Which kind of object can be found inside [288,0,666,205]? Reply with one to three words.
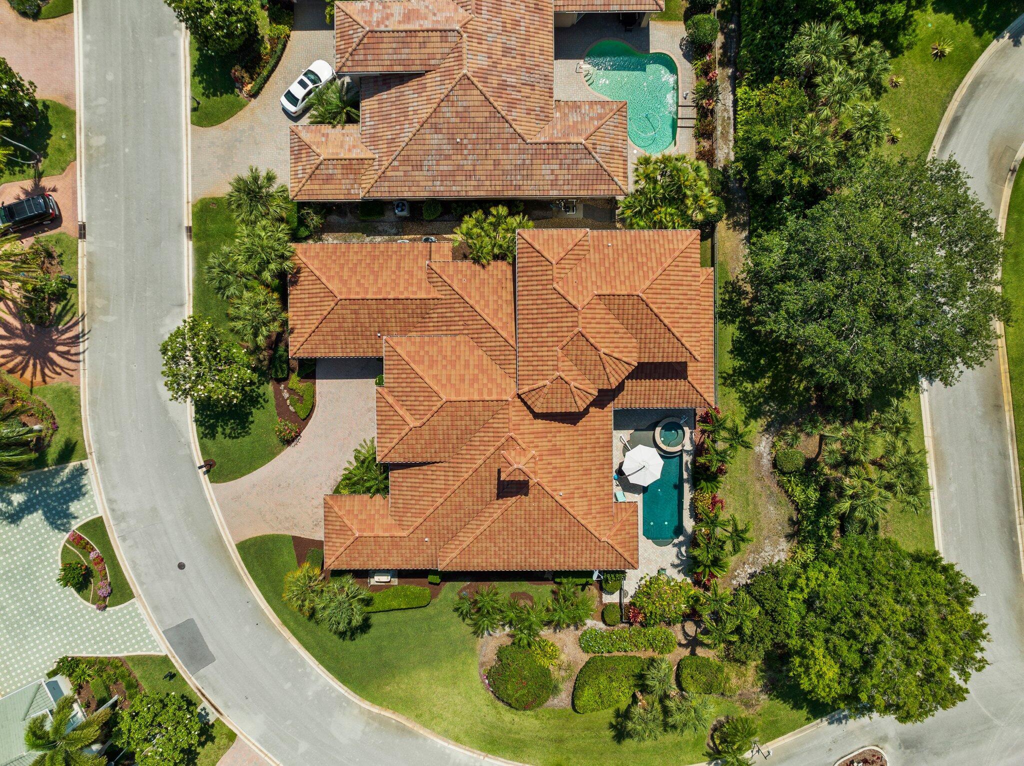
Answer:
house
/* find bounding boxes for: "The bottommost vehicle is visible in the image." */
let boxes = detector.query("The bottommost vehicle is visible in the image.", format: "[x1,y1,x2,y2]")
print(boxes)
[0,194,63,237]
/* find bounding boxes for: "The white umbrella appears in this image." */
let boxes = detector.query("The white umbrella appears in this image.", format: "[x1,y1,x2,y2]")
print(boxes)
[614,444,663,486]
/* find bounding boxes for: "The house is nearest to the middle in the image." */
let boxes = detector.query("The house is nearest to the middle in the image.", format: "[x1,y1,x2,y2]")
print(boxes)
[287,227,716,572]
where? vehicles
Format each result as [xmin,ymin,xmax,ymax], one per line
[0,194,63,237]
[280,58,335,115]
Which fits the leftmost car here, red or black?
black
